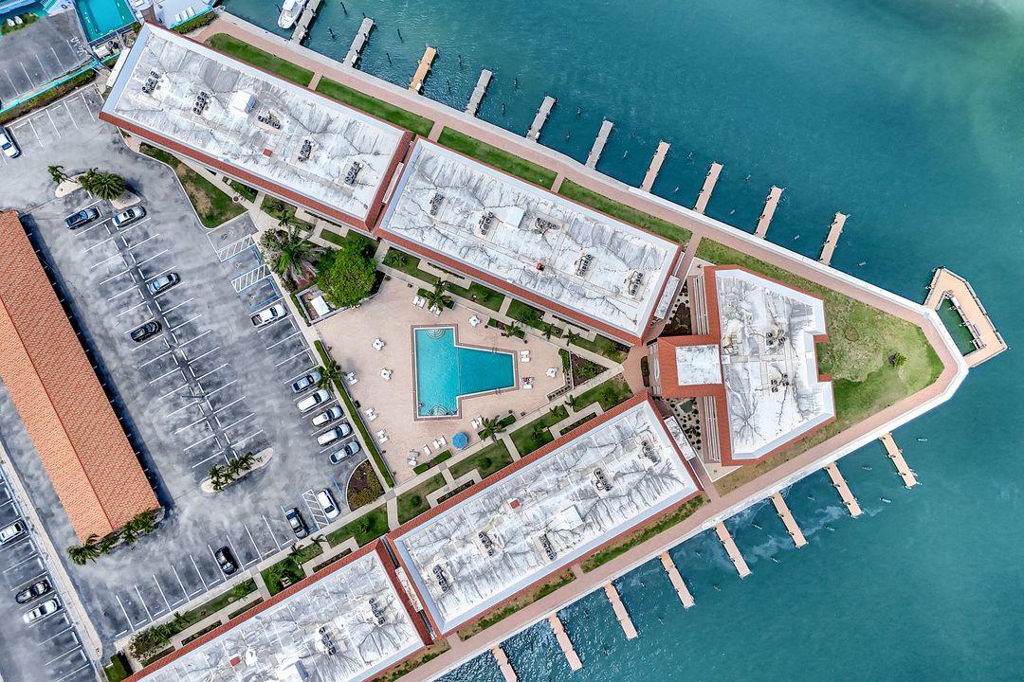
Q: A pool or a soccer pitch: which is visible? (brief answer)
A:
pool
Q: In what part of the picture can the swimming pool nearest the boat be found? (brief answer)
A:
top left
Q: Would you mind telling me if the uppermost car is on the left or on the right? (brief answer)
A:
left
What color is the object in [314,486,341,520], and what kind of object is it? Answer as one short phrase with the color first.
white car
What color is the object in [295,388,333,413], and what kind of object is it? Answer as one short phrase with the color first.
white car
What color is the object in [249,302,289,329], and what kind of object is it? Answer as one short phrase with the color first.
white vehicle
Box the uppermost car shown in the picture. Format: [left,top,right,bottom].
[0,125,20,159]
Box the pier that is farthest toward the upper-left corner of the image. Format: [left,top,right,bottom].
[292,0,321,43]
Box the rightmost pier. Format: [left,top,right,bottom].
[917,267,1011,367]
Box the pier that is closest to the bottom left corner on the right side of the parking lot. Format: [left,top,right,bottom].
[492,643,521,682]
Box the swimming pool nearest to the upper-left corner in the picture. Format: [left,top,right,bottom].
[75,0,137,40]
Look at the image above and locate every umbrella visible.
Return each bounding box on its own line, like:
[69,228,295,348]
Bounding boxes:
[451,432,469,450]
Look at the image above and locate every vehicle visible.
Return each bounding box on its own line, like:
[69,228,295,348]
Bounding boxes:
[16,580,53,604]
[314,486,341,520]
[285,506,310,539]
[214,543,240,578]
[0,125,20,159]
[295,388,333,413]
[112,205,148,228]
[310,404,345,428]
[24,597,61,622]
[316,422,354,447]
[147,272,181,294]
[249,302,289,329]
[290,371,323,393]
[129,320,164,343]
[62,205,102,231]
[328,441,362,464]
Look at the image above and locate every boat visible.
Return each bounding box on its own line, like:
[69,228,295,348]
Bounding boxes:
[281,0,305,27]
